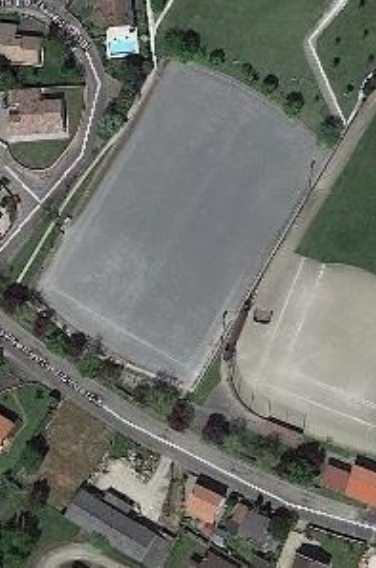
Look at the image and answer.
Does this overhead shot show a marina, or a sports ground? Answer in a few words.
sports ground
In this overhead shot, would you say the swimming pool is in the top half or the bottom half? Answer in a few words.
top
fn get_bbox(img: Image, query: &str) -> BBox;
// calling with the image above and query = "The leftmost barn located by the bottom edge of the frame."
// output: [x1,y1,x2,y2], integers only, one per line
[66,489,156,561]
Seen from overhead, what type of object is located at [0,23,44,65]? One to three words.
house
